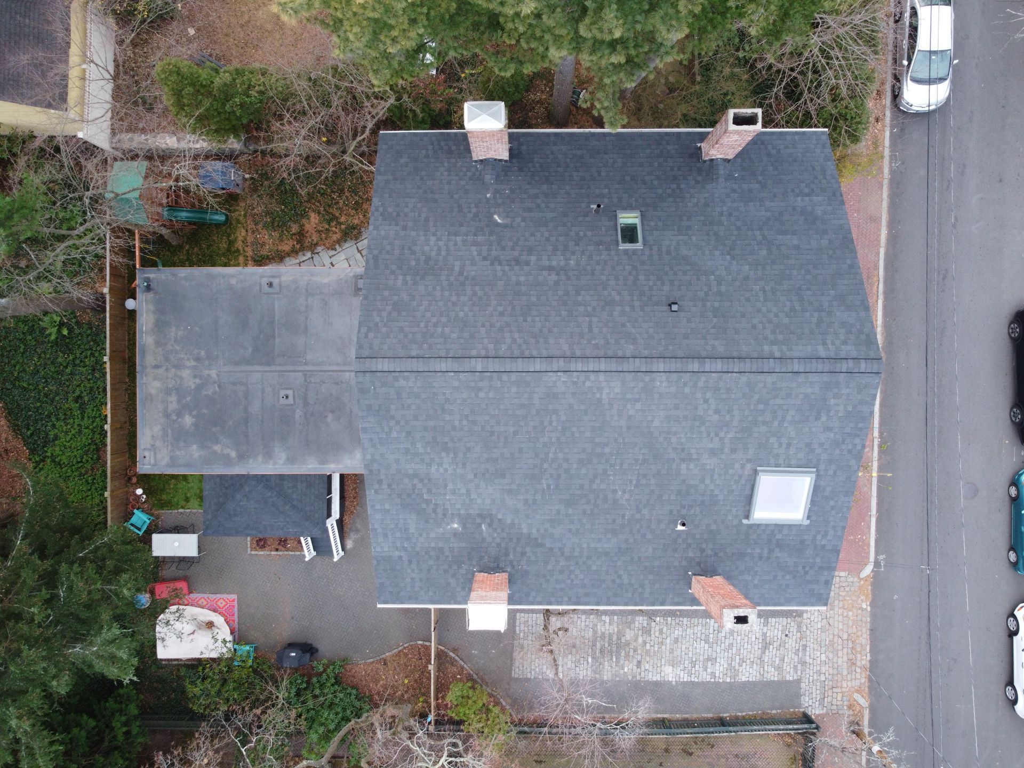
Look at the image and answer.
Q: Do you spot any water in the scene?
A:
No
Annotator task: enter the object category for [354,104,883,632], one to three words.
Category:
house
